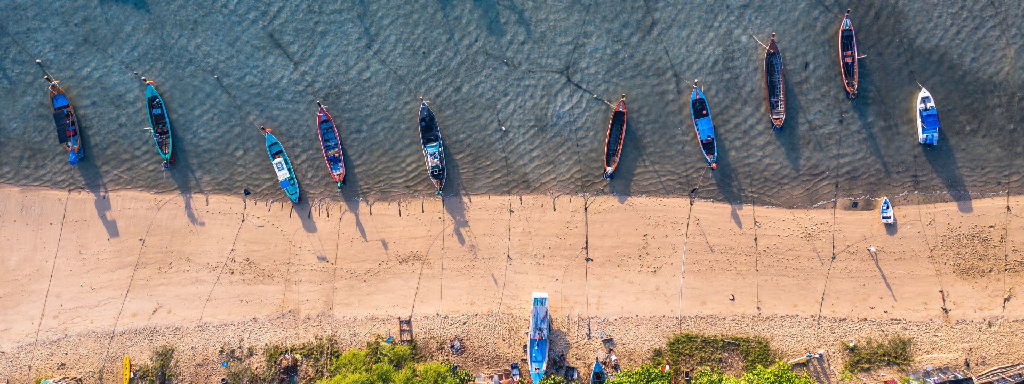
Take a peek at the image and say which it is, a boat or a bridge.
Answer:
boat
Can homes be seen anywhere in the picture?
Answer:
No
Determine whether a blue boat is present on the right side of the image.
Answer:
Yes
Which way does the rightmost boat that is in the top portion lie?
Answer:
up and down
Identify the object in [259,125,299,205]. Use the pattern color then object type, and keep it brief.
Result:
blue boat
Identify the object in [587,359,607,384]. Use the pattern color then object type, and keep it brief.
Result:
blue boat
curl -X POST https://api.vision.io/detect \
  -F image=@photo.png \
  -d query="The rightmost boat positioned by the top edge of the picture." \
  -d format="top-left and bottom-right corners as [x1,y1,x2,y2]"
[837,6,867,105]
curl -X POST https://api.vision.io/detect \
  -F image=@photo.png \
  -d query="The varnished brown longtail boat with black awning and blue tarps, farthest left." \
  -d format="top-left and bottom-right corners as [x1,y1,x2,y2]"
[42,76,84,172]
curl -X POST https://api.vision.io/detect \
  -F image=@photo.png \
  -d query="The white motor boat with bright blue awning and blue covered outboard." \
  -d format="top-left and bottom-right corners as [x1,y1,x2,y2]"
[914,88,940,147]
